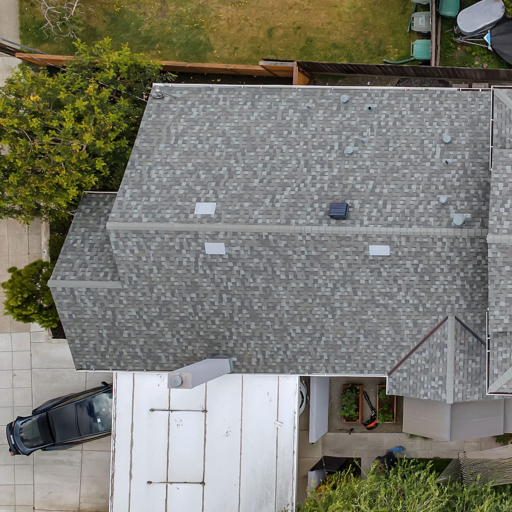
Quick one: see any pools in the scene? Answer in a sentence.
No, there appears to be no pool in this shot.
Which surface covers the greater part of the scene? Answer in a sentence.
The largest share of the image is taken up by buildings.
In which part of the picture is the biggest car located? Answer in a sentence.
Look in the bottom left portion of the view to spot the biggest car.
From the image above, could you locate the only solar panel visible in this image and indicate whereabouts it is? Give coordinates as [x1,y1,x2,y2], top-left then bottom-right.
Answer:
[328,201,347,214]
